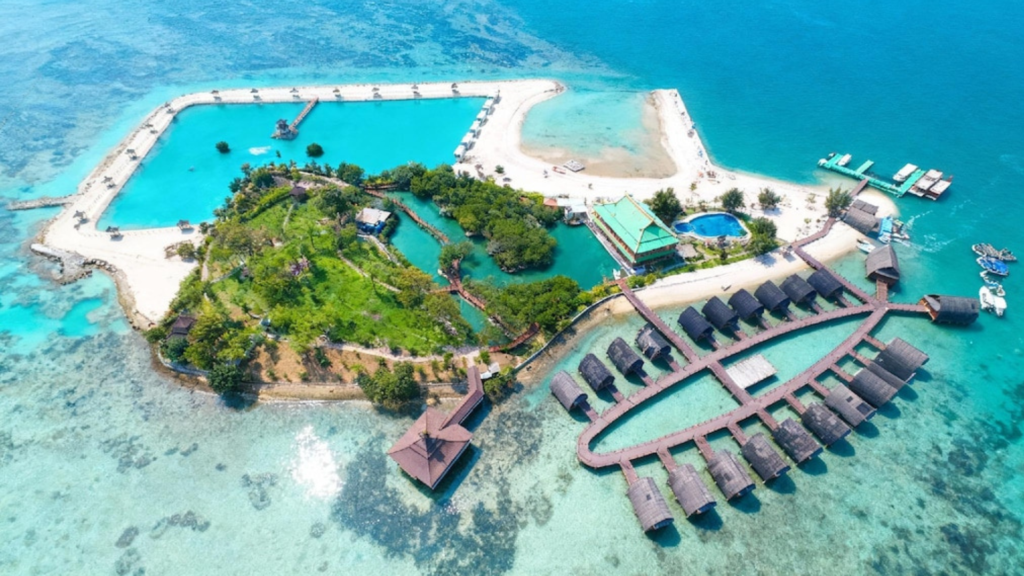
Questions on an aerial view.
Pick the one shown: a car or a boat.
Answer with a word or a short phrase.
boat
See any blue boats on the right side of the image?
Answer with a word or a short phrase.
Yes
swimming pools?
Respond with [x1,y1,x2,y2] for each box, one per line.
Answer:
[688,211,751,239]
[673,221,695,234]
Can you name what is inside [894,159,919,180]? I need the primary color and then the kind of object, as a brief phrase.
white boat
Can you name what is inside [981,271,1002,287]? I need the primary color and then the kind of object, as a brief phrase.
blue boat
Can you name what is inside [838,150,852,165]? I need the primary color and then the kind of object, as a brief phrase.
white boat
